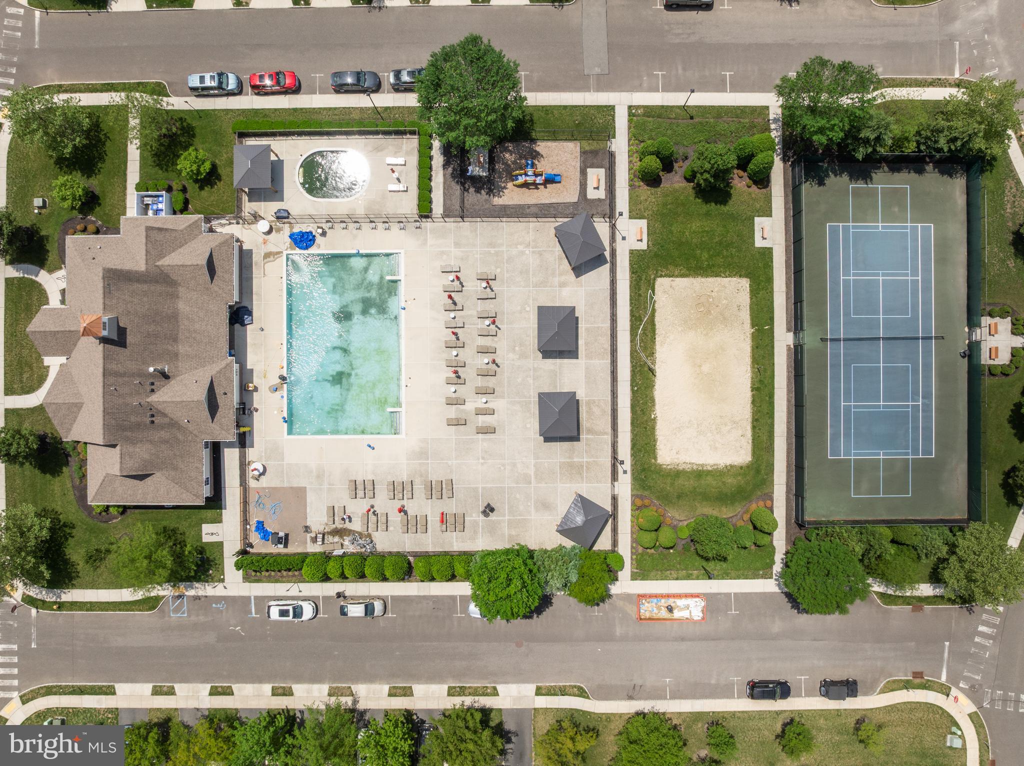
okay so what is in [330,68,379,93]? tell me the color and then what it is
gray car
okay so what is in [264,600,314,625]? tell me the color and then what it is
white car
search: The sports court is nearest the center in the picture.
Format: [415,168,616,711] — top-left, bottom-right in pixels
[655,277,752,468]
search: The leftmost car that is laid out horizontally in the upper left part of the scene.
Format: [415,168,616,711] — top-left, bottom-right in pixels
[184,69,239,95]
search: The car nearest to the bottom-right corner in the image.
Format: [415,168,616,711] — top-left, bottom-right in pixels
[823,680,862,704]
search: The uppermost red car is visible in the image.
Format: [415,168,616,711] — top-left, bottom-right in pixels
[246,68,296,94]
